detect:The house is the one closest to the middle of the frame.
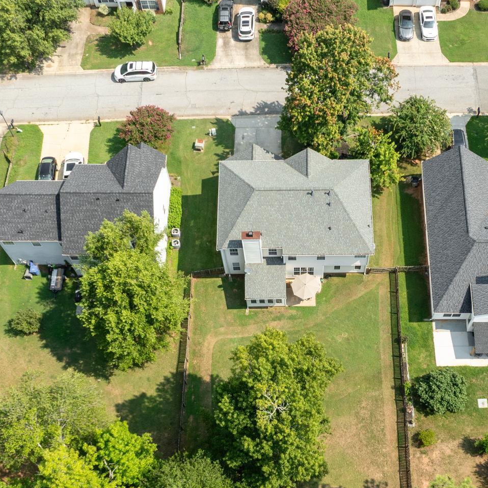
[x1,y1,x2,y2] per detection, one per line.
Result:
[215,144,375,315]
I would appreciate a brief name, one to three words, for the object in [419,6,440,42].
car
